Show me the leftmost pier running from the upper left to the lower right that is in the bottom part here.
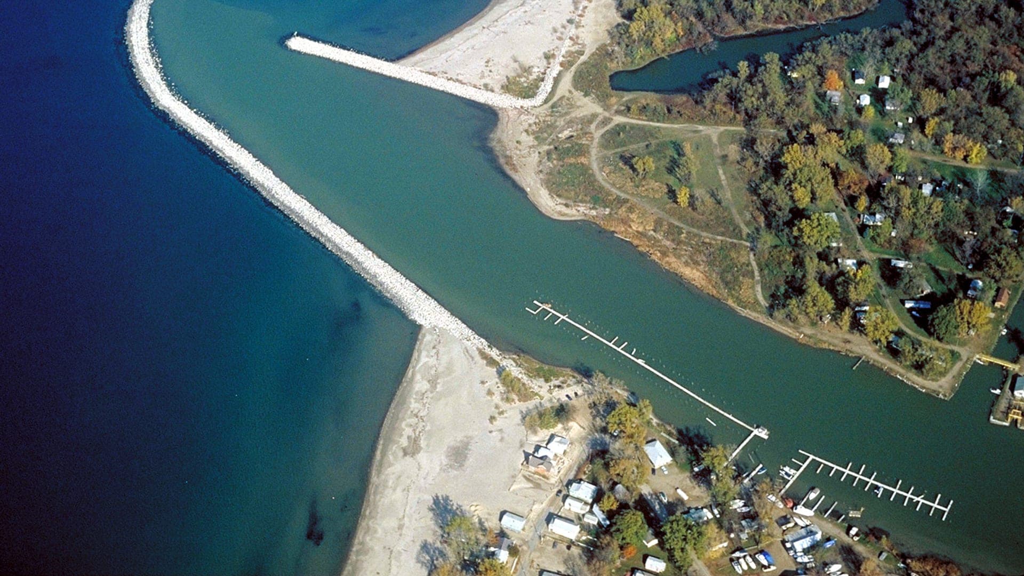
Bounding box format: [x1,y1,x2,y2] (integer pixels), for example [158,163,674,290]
[526,300,768,463]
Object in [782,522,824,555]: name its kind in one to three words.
shed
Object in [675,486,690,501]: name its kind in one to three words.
vehicle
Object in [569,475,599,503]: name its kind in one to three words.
house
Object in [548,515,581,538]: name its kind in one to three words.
house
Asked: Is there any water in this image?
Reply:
Yes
